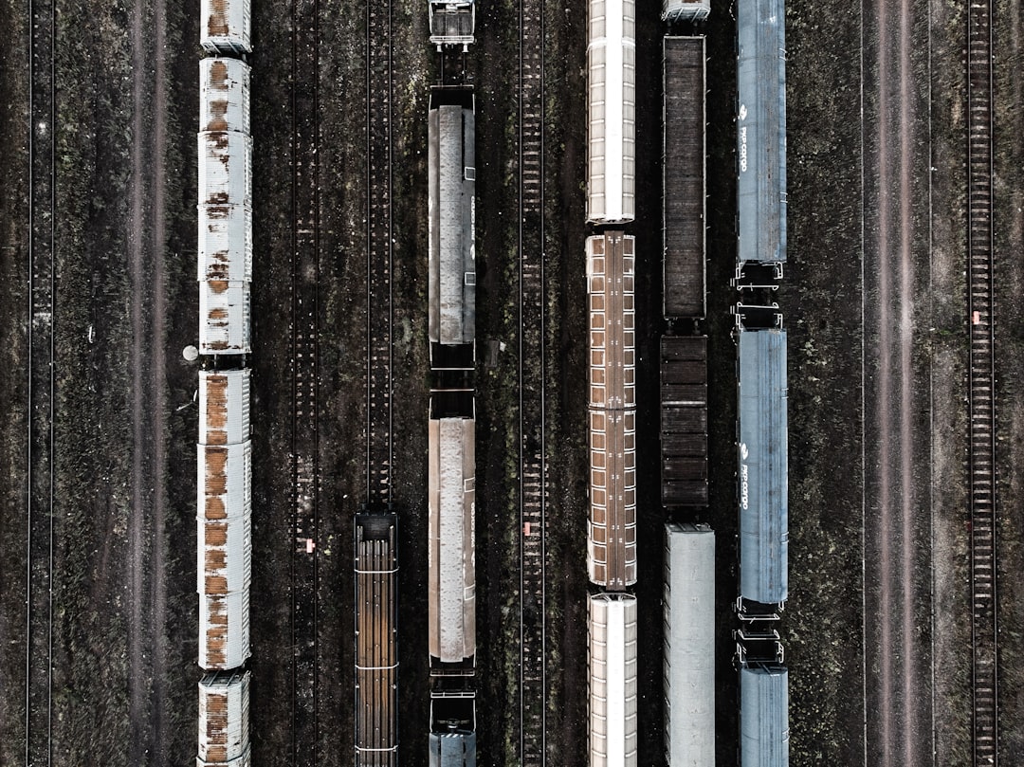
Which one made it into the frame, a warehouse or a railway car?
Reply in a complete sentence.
The image shows a railway car.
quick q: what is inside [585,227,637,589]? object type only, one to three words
rail car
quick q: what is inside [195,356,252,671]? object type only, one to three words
rail car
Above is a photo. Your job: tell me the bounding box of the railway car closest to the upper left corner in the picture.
[197,0,252,62]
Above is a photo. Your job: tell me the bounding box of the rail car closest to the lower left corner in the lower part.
[194,665,251,767]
